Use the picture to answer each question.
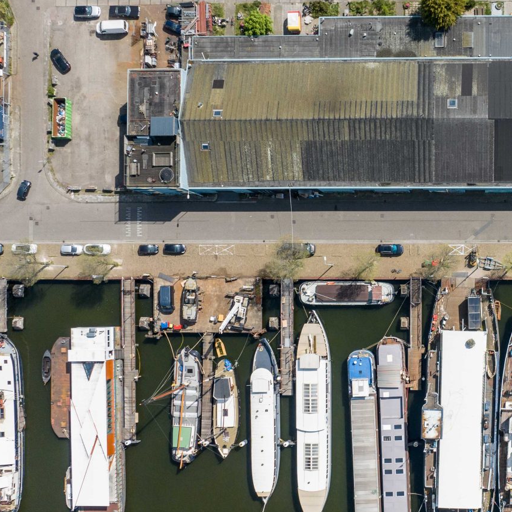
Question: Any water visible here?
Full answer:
Yes, there is water in the image.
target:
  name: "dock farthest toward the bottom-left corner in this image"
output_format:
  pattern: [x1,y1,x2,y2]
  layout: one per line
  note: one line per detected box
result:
[51,337,72,439]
